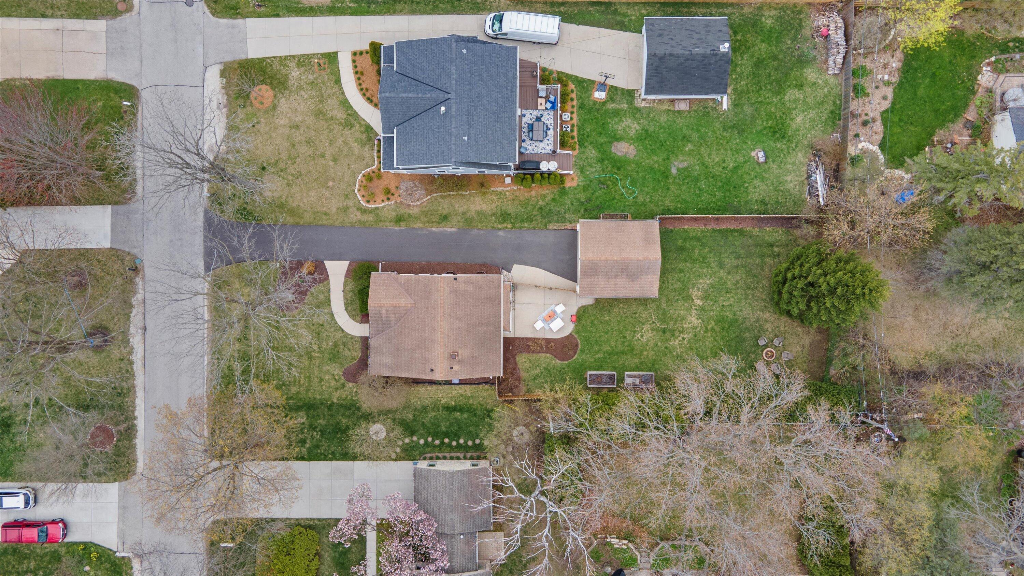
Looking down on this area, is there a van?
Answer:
Yes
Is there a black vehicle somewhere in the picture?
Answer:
No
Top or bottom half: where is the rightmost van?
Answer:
top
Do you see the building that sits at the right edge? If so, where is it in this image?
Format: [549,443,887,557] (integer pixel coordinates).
[990,106,1024,191]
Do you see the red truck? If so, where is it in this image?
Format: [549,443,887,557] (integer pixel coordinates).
[0,516,67,546]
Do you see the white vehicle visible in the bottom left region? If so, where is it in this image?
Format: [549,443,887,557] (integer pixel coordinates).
[0,484,38,510]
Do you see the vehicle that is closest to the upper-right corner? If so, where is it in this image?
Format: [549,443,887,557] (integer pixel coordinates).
[486,11,560,47]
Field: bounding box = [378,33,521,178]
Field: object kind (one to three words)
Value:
house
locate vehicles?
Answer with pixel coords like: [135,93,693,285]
[486,11,560,47]
[0,516,67,546]
[0,484,38,510]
